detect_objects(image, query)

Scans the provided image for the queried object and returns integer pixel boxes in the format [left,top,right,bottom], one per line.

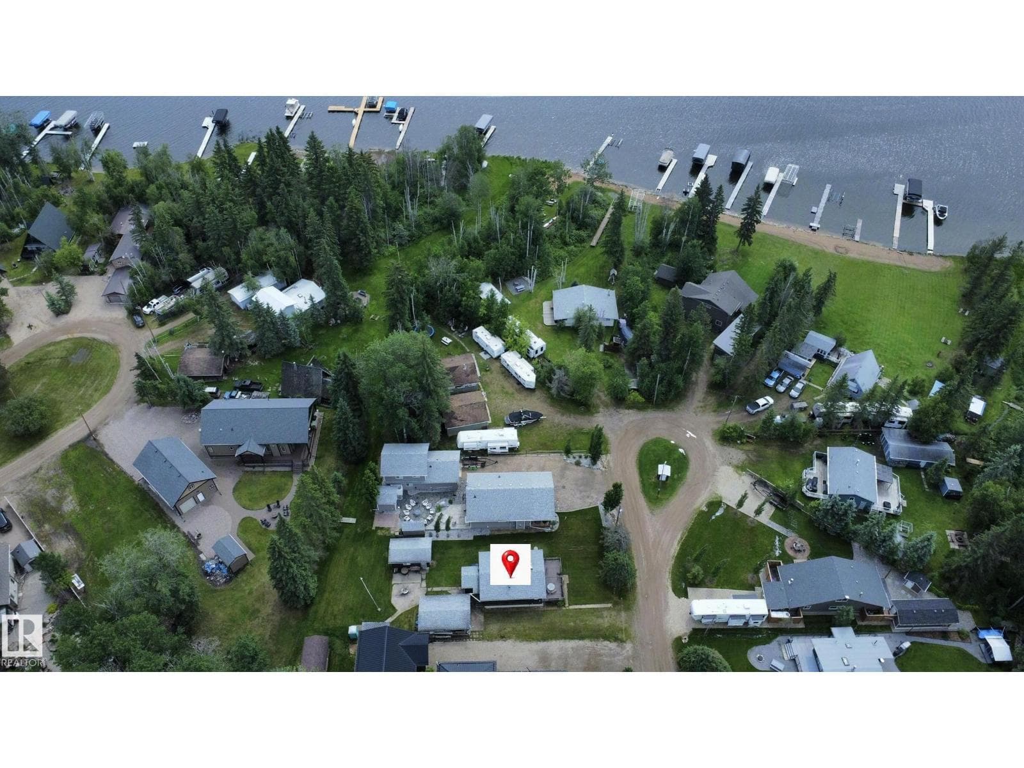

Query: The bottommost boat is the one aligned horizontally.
[502,406,542,423]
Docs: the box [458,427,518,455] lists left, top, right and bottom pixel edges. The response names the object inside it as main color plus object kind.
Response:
white trailer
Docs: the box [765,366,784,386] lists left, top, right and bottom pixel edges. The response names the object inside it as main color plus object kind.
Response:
blue car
